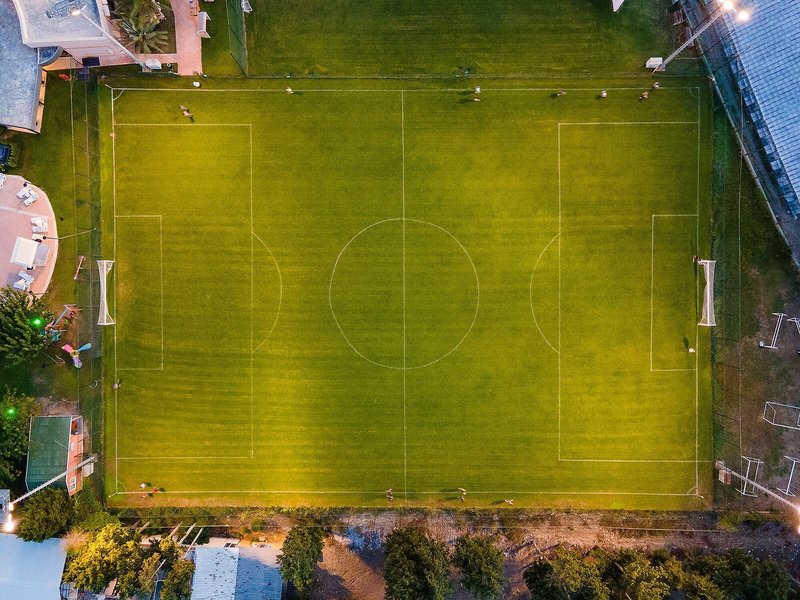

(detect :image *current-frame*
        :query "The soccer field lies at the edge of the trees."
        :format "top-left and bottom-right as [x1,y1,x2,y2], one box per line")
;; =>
[98,78,713,510]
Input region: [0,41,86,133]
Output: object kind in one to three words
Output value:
house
